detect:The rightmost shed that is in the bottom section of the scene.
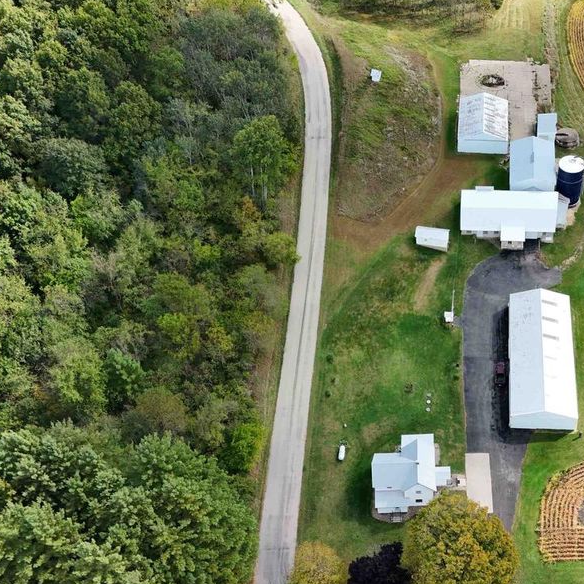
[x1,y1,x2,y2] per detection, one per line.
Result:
[509,287,578,430]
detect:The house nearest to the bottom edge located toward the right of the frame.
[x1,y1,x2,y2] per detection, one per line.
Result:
[373,435,457,522]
